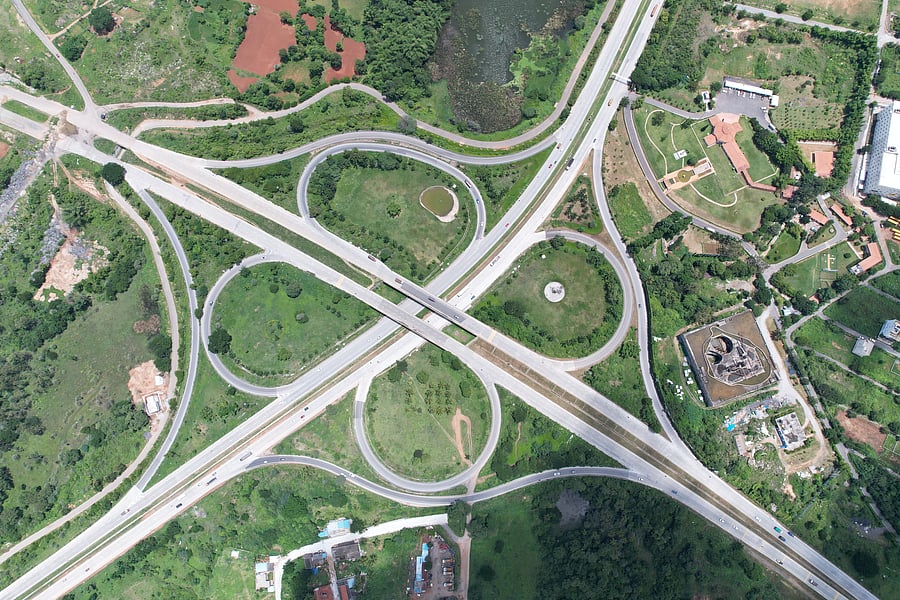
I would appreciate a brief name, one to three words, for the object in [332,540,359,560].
house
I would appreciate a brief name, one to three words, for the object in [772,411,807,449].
house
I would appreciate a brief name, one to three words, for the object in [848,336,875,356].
building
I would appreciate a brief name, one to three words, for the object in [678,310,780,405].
building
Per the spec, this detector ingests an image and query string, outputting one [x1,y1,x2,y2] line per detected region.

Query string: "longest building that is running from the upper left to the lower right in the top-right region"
[702,117,795,199]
